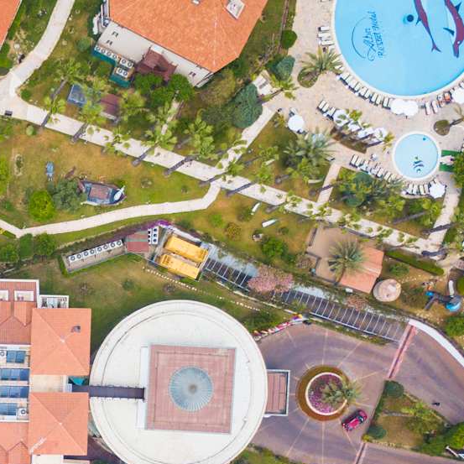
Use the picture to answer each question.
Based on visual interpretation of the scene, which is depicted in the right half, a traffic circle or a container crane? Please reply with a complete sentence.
You can see a traffic circle in the right half.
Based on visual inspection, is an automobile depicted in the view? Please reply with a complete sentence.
Yes, the photo shows an automobile.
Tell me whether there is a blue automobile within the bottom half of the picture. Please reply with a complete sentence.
No, there is no blue automobile within the bottom half of the picture.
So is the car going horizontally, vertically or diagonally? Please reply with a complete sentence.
The car runs diagonally in the image.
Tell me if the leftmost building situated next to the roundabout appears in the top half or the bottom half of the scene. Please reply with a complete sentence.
It is in the bottom half that the leftmost building situated next to the roundabout appears.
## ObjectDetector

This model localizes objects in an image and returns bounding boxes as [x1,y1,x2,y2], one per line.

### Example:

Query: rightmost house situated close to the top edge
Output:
[100,0,267,84]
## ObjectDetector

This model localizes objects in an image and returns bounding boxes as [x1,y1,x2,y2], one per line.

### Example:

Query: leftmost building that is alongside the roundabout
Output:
[80,299,296,464]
